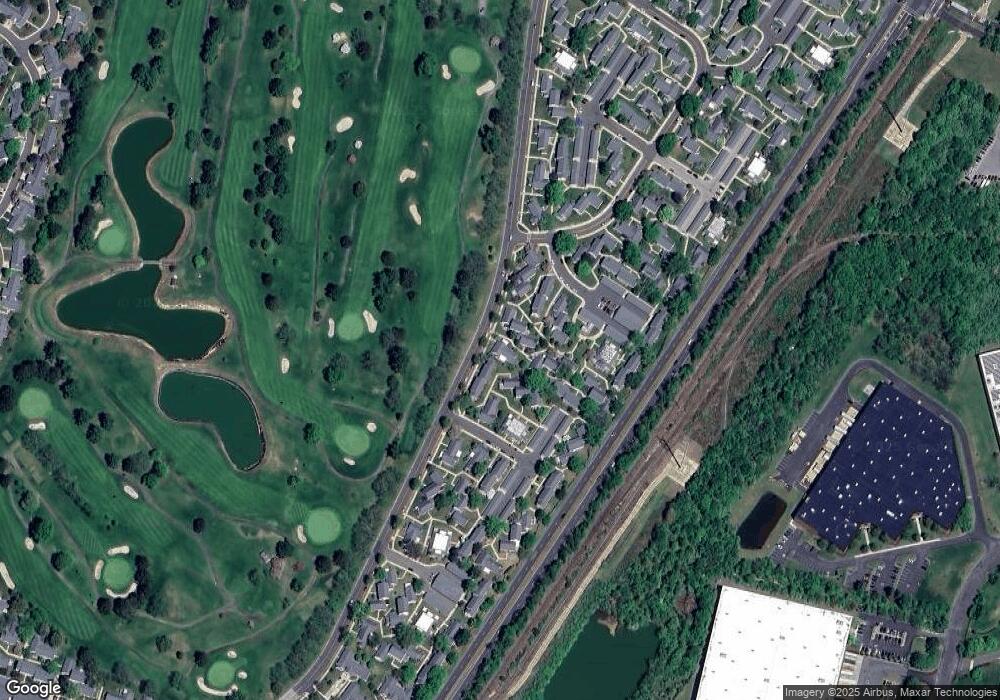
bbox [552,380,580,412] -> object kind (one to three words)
house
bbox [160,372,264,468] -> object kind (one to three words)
pond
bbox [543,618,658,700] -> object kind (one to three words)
pond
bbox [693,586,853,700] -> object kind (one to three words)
warehouse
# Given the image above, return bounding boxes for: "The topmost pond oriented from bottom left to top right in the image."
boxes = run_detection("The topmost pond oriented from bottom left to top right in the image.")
[737,492,788,549]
